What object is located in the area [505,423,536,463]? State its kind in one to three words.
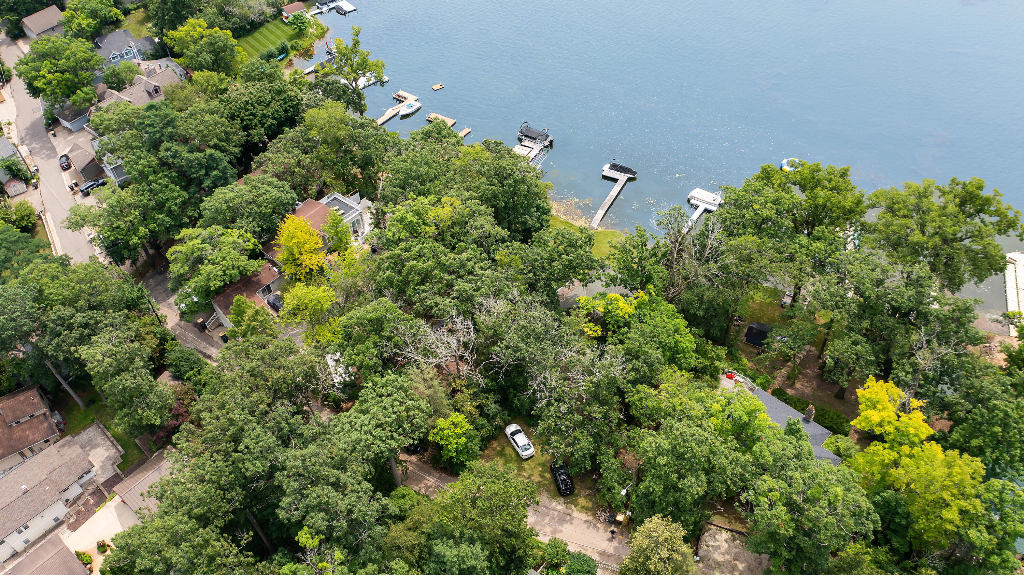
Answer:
car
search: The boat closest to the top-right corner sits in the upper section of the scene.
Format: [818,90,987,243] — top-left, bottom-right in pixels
[688,186,723,206]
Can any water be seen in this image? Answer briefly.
Yes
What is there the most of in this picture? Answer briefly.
trees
